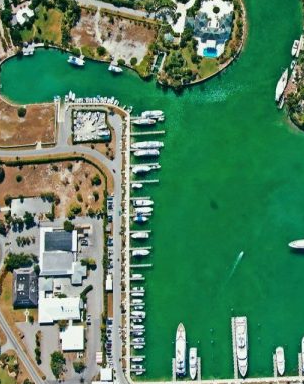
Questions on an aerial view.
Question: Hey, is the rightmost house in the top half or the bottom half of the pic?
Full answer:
Seen from above, the rightmost house lies in the top half of the view.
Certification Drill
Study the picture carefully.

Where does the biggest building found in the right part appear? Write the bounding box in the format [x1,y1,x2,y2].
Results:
[184,10,234,45]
